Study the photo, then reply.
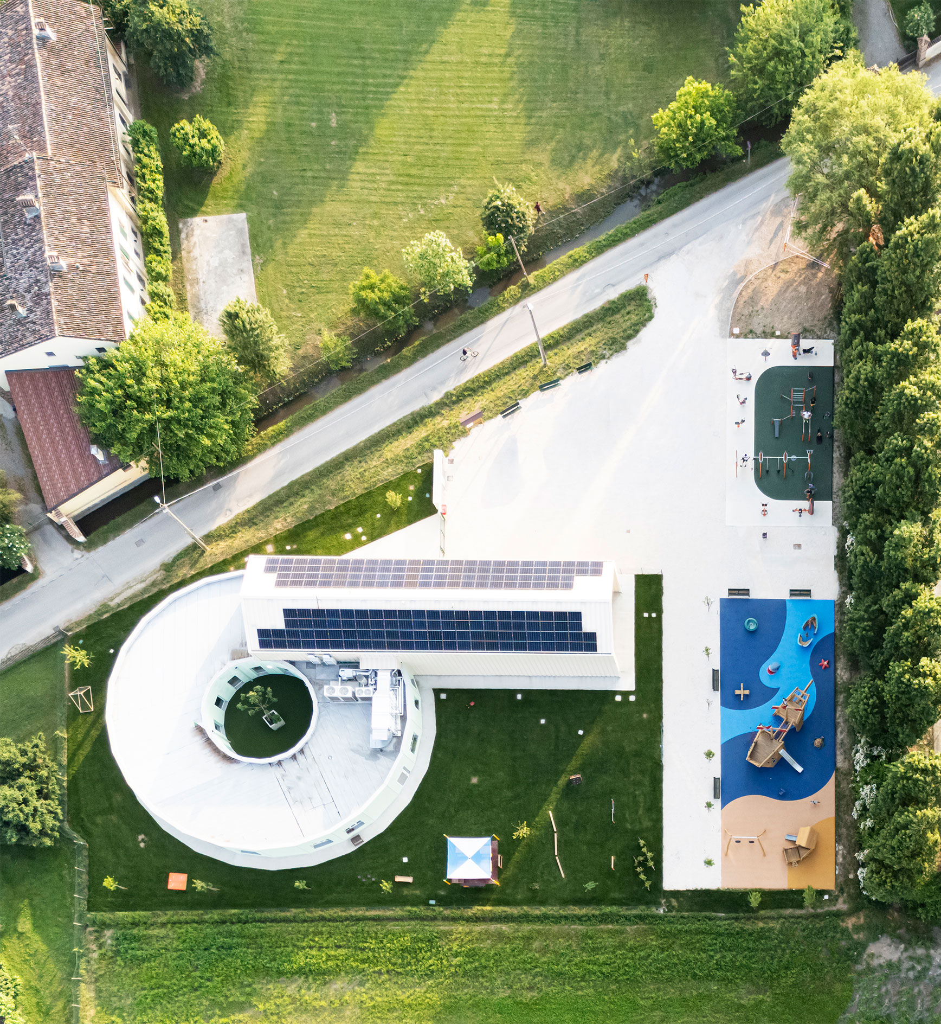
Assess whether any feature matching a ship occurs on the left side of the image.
No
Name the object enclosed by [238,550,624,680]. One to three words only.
building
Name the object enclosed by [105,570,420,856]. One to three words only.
building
